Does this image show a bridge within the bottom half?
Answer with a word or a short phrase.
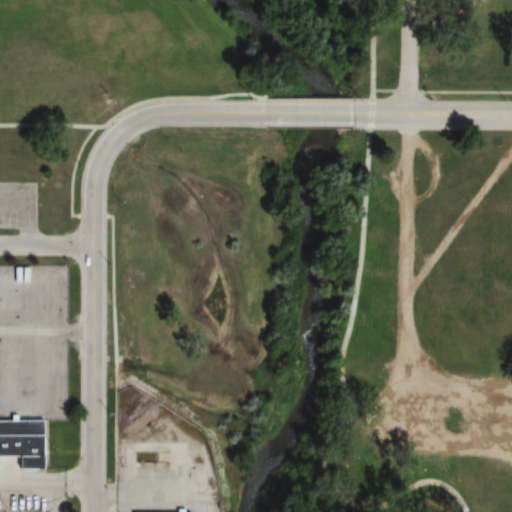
No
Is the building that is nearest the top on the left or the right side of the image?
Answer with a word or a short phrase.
left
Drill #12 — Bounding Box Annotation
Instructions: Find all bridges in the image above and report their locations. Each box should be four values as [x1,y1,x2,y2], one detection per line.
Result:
[266,98,354,128]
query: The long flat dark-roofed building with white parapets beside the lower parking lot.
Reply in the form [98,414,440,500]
[0,414,48,468]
